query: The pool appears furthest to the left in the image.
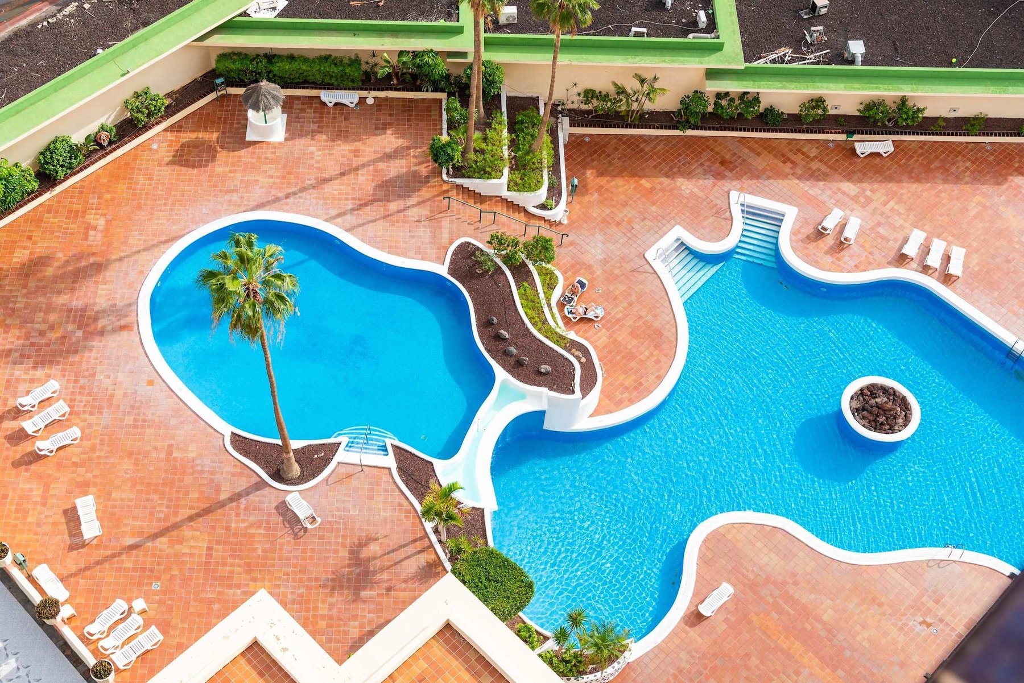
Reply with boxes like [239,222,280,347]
[137,210,506,470]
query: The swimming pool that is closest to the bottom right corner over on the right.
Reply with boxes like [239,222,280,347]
[493,190,1024,654]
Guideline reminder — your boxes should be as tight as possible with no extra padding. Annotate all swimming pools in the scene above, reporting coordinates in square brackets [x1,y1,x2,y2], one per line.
[137,210,506,470]
[493,190,1024,654]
